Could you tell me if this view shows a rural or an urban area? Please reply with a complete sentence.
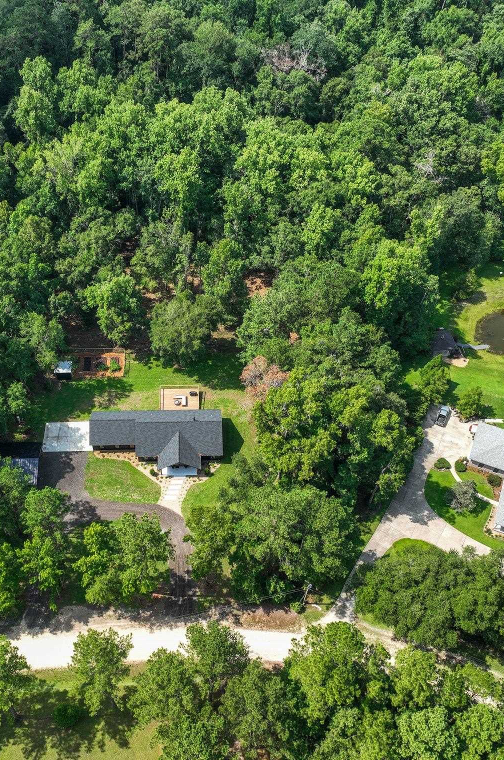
The area shown here is rural.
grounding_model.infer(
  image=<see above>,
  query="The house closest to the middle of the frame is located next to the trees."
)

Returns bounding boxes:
[89,410,223,480]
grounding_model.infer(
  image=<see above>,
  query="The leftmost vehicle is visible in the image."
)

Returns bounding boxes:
[433,402,453,427]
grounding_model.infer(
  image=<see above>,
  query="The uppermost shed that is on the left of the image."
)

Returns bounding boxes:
[53,361,73,380]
